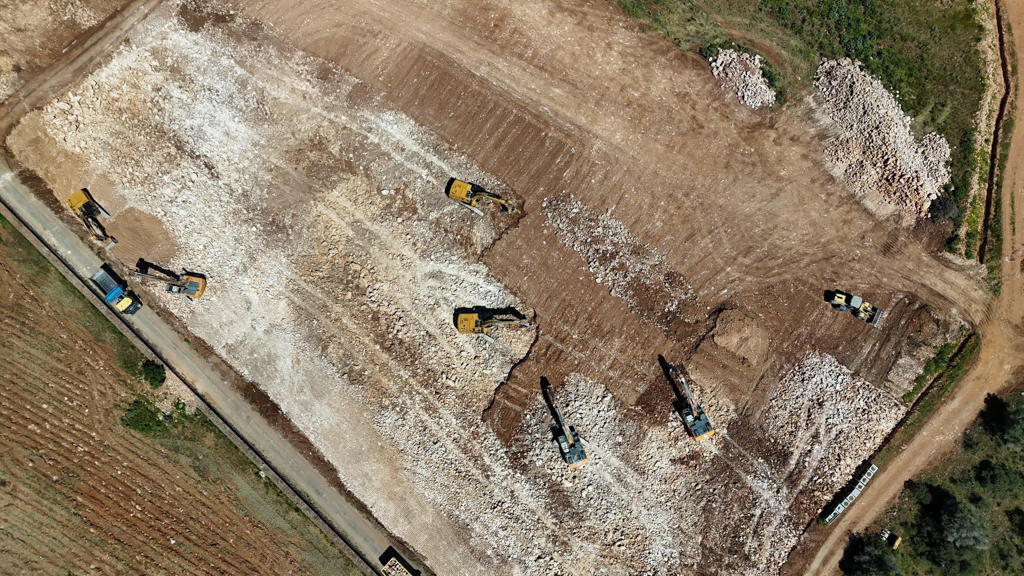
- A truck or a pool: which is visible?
truck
